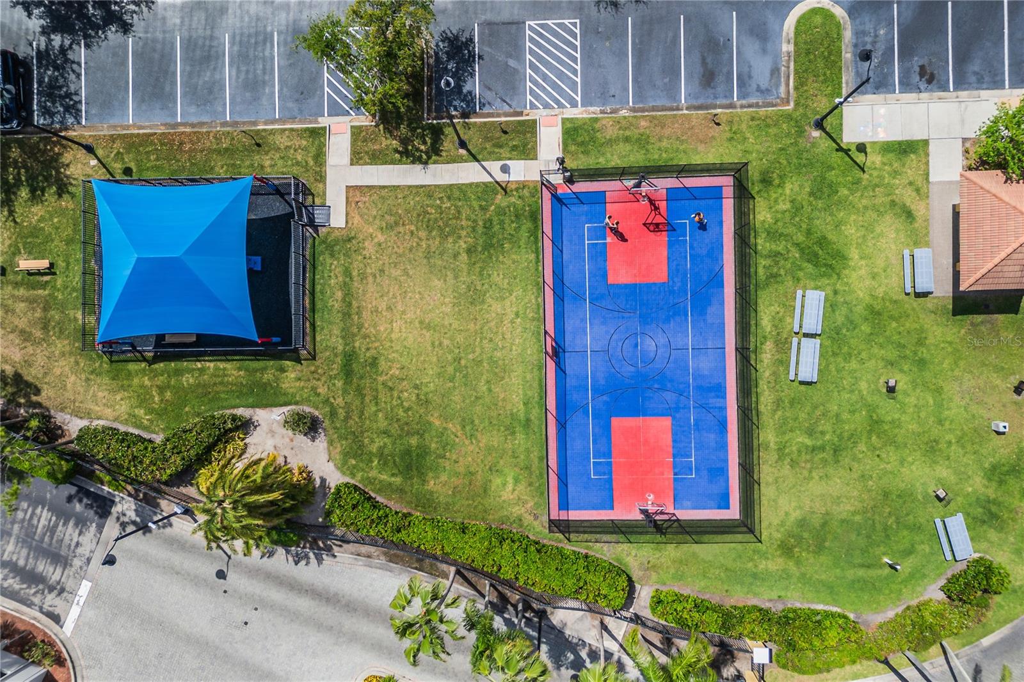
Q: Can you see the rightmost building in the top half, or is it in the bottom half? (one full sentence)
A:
It is in the top half that the rightmost building appears.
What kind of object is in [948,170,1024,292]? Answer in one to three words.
building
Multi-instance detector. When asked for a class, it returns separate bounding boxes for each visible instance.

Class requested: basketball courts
[540,172,741,522]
